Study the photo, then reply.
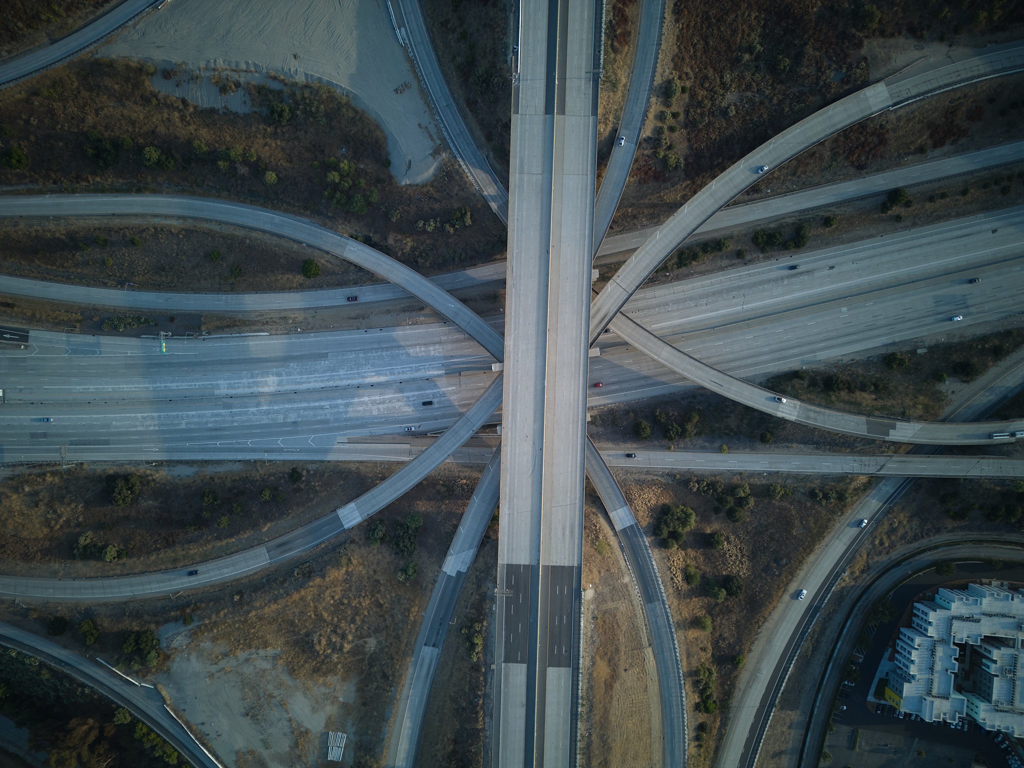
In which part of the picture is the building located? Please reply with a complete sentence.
The building appears toward the bottom right of the photo.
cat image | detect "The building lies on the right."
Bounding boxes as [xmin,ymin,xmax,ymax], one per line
[883,583,1024,737]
